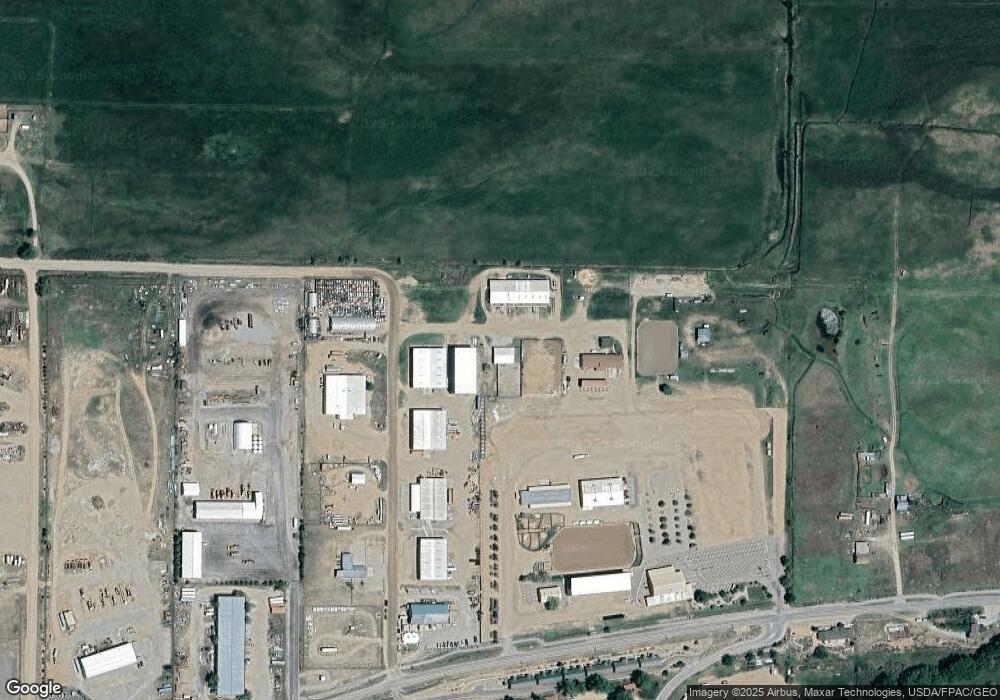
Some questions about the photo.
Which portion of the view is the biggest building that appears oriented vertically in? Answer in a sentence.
The biggest building that appears oriented vertically is in the bottom left part of the image.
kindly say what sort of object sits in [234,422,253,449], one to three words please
shed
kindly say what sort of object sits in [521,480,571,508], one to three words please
barn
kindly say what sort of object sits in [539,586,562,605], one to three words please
house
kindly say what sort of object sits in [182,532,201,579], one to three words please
building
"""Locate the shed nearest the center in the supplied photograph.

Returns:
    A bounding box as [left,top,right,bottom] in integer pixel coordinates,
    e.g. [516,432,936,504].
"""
[494,348,515,363]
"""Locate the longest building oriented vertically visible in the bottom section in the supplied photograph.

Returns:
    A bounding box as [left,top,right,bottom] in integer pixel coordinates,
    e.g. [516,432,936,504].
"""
[217,597,245,695]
